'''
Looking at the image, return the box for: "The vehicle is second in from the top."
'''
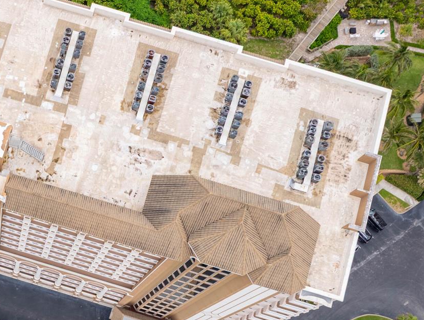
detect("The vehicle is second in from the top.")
[361,229,380,249]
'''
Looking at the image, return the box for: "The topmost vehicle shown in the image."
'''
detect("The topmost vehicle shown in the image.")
[369,209,396,238]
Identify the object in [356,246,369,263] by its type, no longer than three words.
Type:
vehicle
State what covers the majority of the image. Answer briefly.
buildings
